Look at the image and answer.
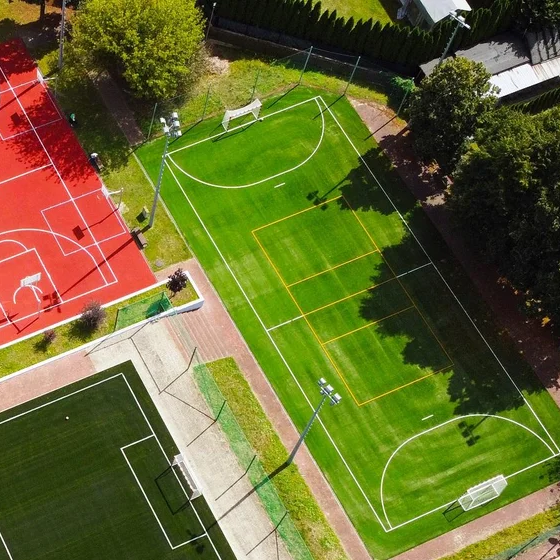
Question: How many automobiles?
none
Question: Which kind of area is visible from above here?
sports ground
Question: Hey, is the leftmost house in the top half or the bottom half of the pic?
top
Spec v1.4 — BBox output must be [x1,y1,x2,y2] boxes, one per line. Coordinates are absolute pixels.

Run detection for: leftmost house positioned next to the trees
[389,0,472,47]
